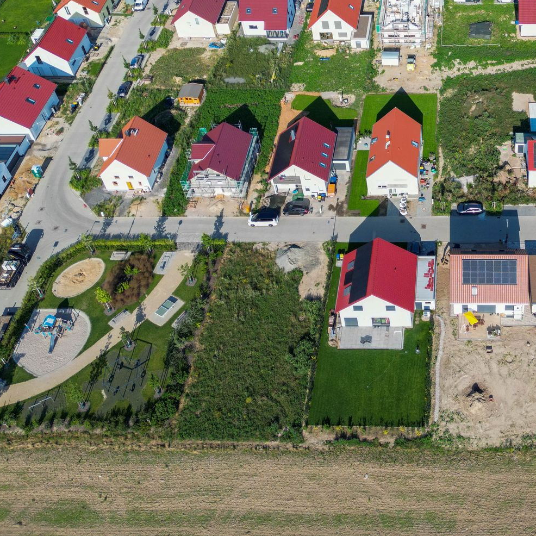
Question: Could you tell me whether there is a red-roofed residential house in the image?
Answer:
Yes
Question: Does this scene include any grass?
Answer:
Yes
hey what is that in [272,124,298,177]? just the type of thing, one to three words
solar array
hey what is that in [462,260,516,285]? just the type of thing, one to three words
solar array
